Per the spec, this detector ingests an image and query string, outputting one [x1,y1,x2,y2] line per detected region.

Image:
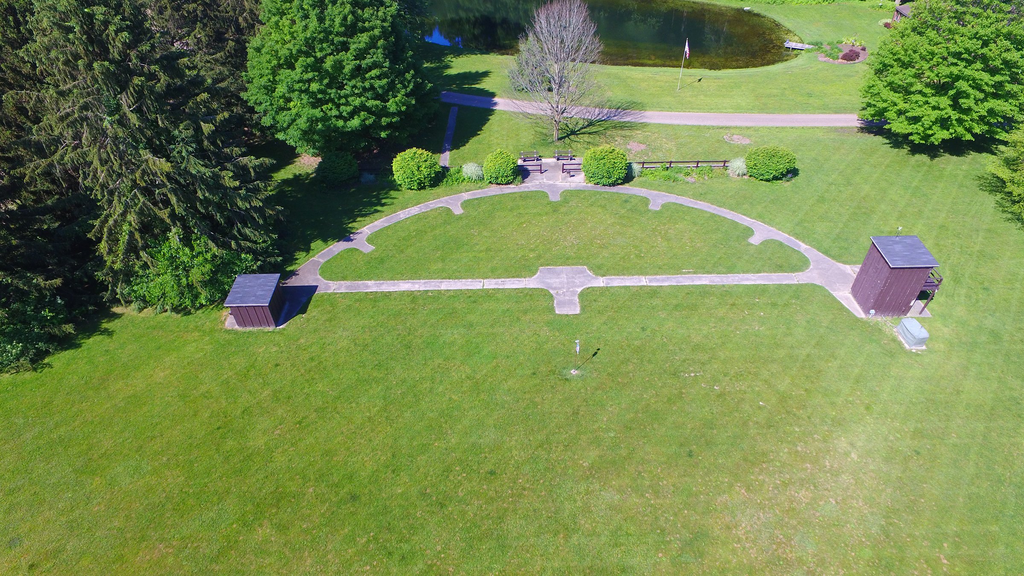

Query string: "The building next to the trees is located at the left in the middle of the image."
[224,275,288,328]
